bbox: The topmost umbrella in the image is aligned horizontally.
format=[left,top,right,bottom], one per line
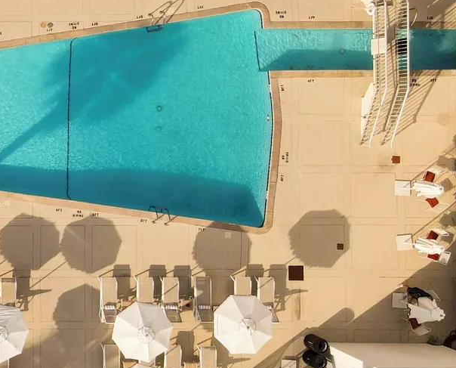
[399,180,447,197]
